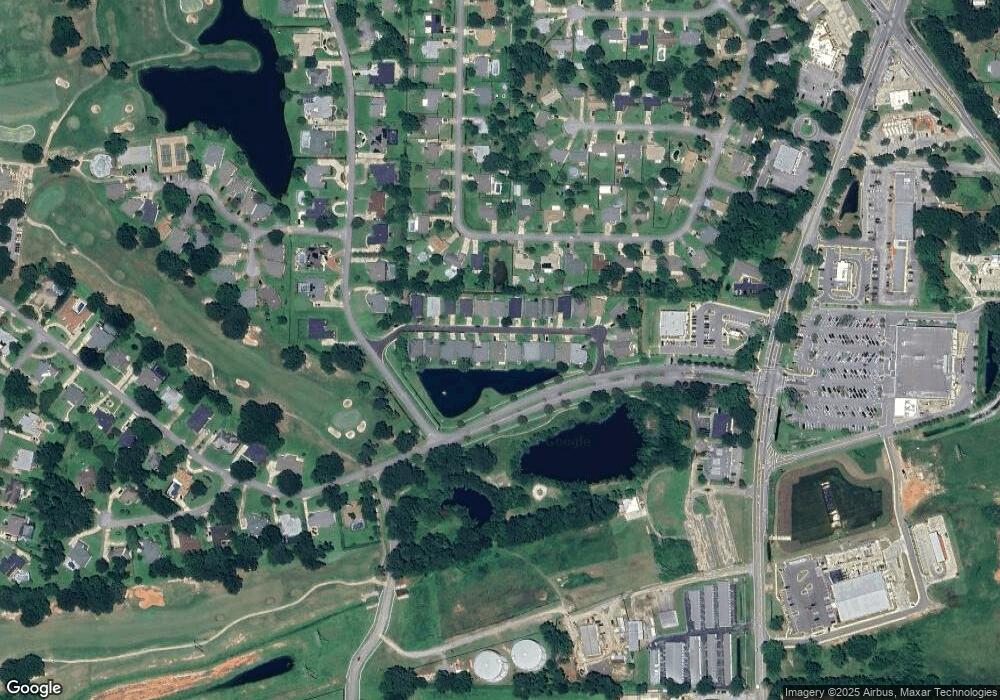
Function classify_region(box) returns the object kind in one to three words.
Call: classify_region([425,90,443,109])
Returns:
house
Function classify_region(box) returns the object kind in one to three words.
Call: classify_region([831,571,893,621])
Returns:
building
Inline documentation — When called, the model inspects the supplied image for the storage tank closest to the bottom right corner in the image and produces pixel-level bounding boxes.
[511,639,547,671]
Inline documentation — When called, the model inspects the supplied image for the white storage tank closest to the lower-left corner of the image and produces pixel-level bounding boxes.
[474,651,507,679]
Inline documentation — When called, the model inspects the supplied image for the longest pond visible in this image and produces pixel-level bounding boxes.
[419,368,560,418]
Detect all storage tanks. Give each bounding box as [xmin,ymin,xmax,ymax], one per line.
[474,651,507,679]
[511,639,547,671]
